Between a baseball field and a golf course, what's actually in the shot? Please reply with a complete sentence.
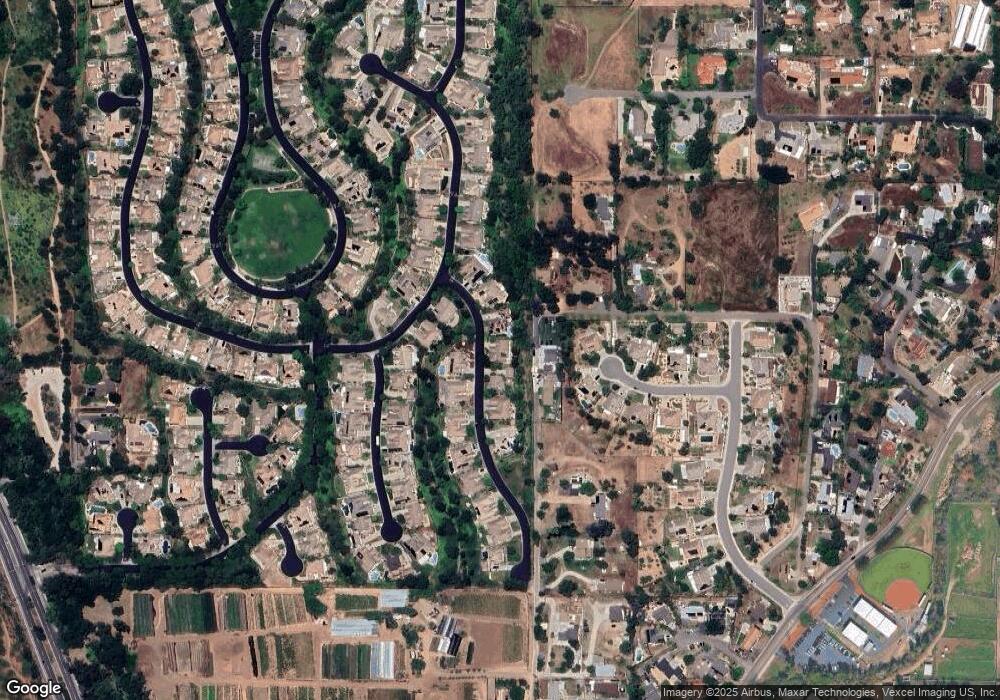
Of the two, only a baseball field appears.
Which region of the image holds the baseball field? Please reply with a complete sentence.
The baseball field sits in the bottom right section of the image.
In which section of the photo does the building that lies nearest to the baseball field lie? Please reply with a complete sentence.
The building that lies nearest to the baseball field sits in the bottom right section of the image.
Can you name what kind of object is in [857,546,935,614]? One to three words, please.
baseball field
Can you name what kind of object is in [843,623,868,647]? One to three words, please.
building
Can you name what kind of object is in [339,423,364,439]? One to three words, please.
house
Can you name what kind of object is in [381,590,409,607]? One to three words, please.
greenhouse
